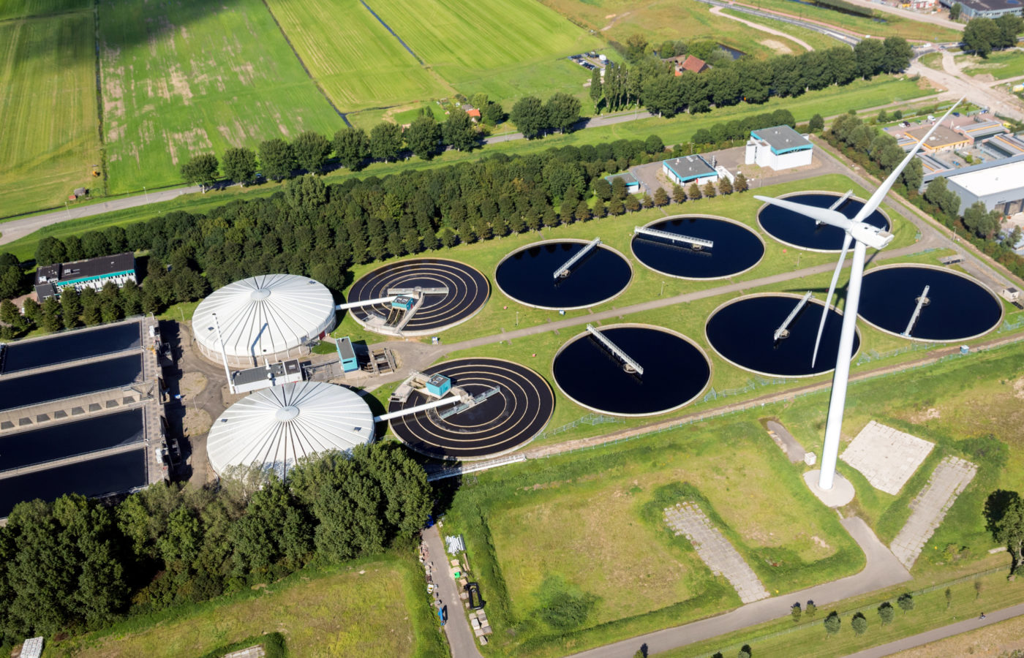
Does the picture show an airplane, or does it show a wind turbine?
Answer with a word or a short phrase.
wind turbine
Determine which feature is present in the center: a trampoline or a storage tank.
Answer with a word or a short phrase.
storage tank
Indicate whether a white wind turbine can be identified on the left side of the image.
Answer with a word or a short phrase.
No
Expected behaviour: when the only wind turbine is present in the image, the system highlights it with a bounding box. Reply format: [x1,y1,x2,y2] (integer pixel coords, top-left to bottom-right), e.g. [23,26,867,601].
[751,98,959,495]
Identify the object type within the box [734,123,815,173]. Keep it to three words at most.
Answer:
building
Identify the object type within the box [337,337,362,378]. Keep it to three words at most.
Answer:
building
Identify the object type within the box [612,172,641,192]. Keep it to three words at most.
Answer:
shed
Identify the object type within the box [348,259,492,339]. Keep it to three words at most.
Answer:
storage tank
